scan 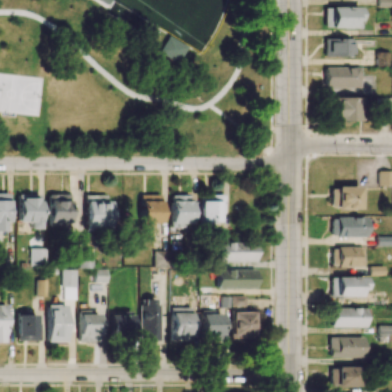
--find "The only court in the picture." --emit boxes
[0,74,44,117]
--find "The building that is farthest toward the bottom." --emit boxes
[332,368,368,388]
